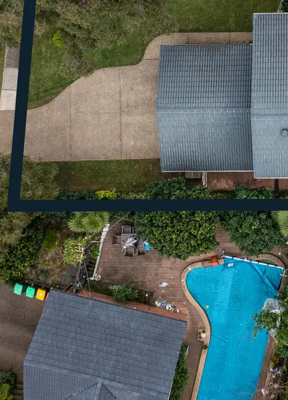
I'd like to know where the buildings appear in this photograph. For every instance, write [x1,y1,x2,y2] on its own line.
[156,13,288,178]
[22,283,189,400]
